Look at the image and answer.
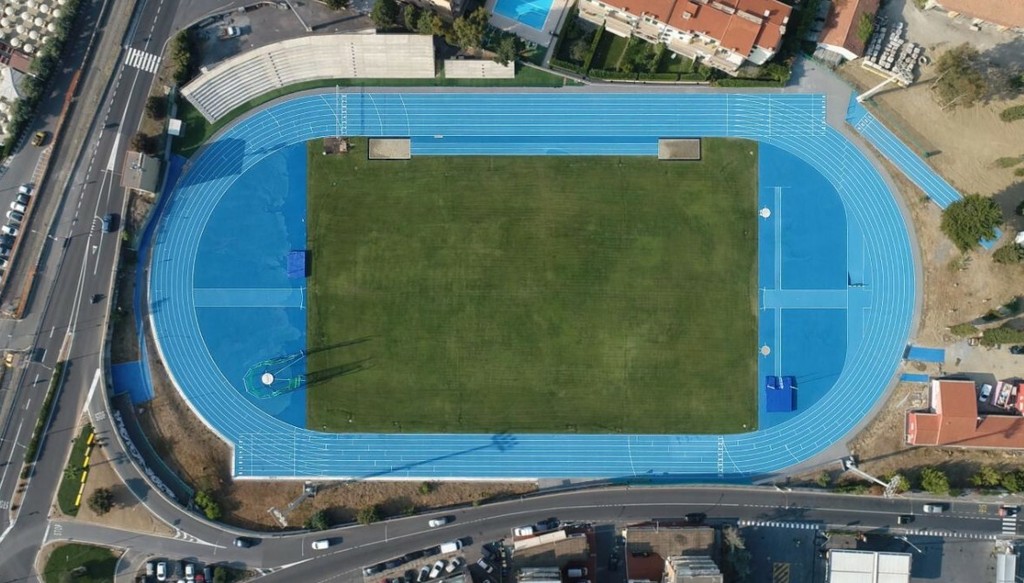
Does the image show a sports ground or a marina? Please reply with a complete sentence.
This looks like a sports ground.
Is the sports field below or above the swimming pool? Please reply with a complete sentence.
The sports field appears below the swimming pool in the picture.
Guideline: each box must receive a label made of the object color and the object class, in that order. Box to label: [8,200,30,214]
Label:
white car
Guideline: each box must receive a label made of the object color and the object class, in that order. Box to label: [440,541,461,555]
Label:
white vehicle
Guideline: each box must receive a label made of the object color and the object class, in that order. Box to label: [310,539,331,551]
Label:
white vehicle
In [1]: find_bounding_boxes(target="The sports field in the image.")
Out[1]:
[307,137,758,434]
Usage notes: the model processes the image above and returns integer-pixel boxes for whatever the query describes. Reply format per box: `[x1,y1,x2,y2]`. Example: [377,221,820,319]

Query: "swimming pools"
[486,0,564,47]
